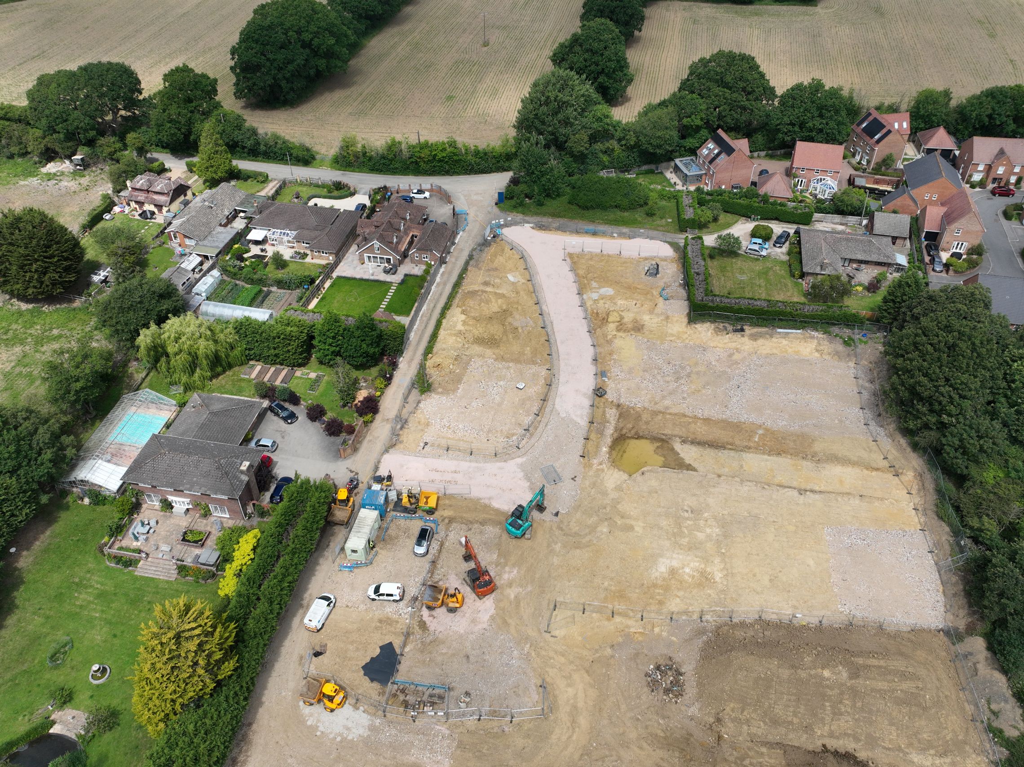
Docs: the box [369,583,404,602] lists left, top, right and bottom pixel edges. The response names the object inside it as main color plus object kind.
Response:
white vehicle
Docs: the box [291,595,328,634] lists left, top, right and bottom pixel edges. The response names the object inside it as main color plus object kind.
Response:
white van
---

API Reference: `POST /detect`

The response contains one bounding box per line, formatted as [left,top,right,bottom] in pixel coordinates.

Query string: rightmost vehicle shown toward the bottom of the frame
[506,482,547,543]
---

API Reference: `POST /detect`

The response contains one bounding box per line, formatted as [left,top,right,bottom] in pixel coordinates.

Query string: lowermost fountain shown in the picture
[87,661,111,683]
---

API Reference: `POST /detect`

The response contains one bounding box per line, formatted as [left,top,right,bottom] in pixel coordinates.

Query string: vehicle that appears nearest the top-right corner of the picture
[990,183,1015,197]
